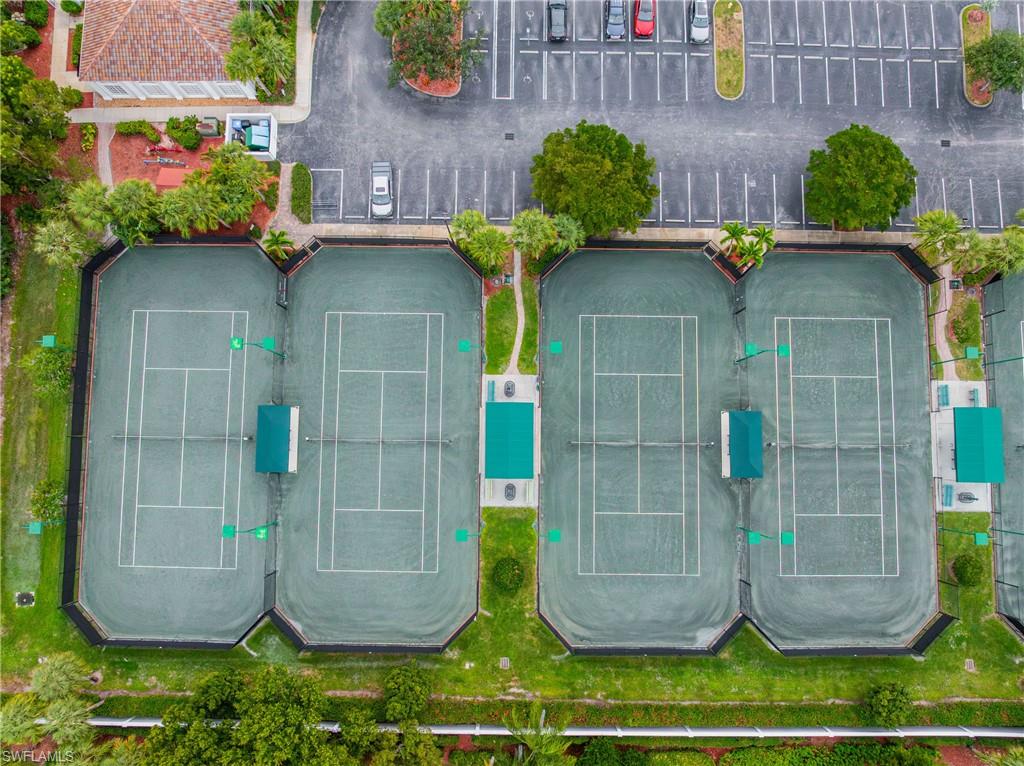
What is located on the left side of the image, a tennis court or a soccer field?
tennis court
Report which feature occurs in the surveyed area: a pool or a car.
car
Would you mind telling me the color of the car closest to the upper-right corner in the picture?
white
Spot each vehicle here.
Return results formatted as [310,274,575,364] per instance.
[632,0,655,38]
[369,162,394,220]
[548,0,570,42]
[604,0,626,39]
[688,0,712,44]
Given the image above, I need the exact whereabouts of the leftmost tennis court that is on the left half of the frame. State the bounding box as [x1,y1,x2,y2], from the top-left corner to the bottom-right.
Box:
[72,243,287,643]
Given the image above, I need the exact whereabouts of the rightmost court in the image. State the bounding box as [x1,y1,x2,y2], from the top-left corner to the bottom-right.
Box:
[980,253,1024,646]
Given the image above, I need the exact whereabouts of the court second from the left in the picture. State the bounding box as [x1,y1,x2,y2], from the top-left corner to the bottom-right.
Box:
[275,245,484,645]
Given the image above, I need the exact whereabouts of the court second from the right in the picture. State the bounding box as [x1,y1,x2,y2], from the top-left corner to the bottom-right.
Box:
[736,250,941,651]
